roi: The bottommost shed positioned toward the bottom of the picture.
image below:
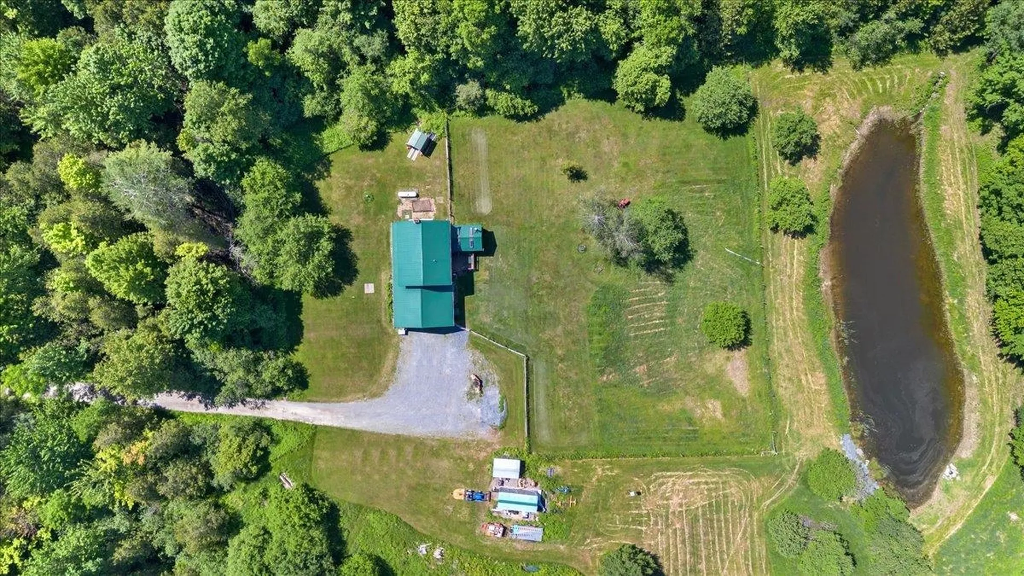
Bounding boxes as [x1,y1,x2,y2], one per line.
[496,487,545,517]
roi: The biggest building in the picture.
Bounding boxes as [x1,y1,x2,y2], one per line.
[391,215,484,329]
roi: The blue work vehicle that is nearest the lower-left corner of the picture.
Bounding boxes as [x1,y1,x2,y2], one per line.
[468,490,493,504]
